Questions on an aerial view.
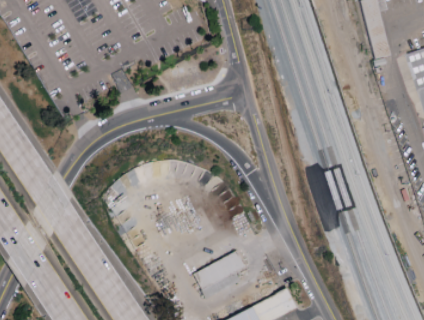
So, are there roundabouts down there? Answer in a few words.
No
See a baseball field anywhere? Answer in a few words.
No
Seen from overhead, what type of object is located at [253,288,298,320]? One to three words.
building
